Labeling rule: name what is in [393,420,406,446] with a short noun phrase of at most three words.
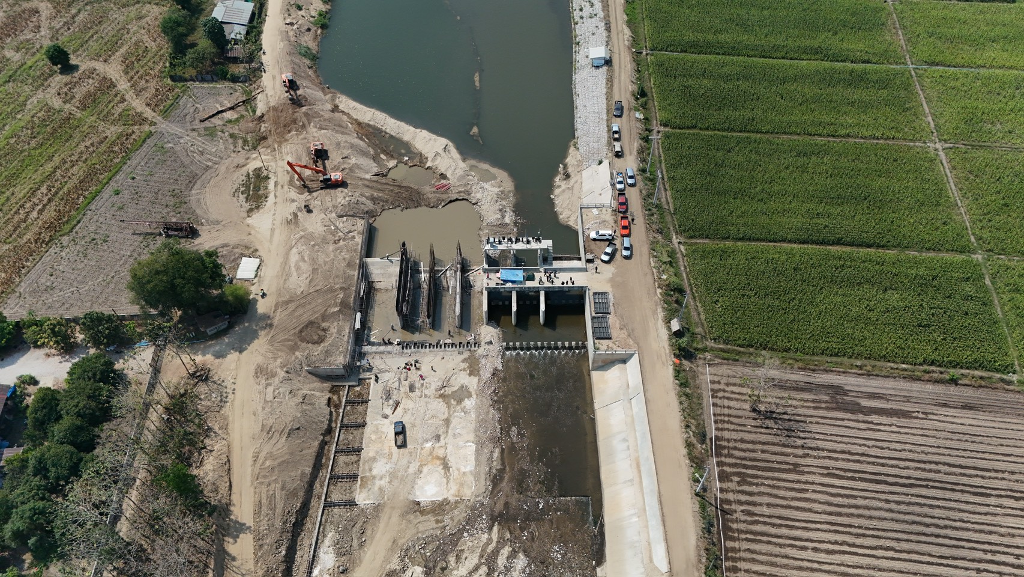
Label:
vehicle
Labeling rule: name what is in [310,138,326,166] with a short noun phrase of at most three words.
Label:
work vehicle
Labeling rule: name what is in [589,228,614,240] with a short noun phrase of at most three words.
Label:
vehicle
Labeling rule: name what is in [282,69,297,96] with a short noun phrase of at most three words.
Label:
work vehicle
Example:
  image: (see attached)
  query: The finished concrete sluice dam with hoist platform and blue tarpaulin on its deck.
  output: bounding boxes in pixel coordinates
[483,202,643,371]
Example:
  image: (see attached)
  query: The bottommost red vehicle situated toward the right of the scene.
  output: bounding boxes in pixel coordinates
[619,215,631,235]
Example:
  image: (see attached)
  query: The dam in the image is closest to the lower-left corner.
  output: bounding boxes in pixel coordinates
[302,212,483,394]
